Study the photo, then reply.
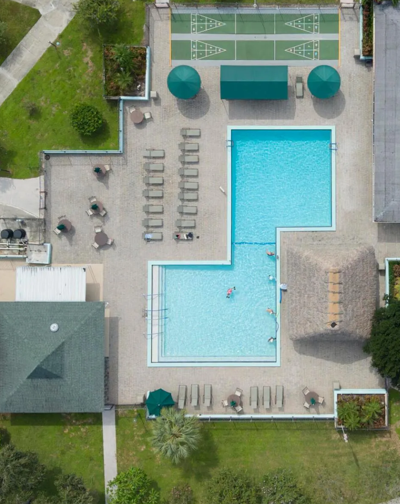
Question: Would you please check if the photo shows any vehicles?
No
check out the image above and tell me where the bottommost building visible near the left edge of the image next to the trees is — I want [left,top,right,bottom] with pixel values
[0,267,107,413]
